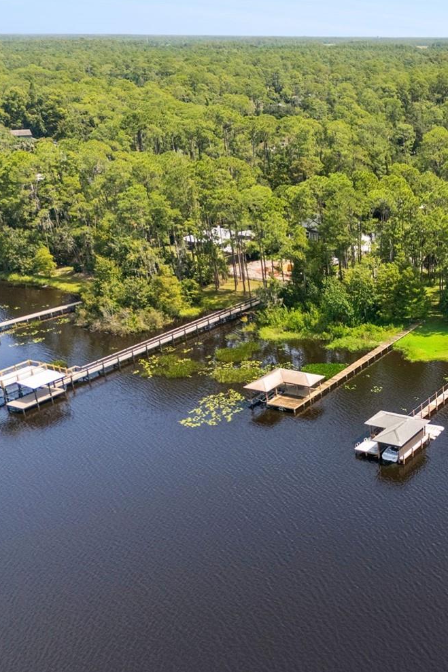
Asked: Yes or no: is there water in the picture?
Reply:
Yes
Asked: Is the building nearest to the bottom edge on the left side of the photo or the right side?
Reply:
right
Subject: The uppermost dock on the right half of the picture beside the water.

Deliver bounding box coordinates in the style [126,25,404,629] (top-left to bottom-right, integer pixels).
[315,324,423,392]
